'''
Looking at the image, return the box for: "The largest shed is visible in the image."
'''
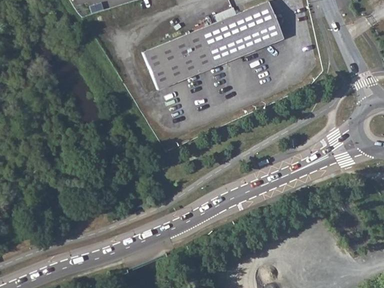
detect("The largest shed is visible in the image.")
[141,1,284,90]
